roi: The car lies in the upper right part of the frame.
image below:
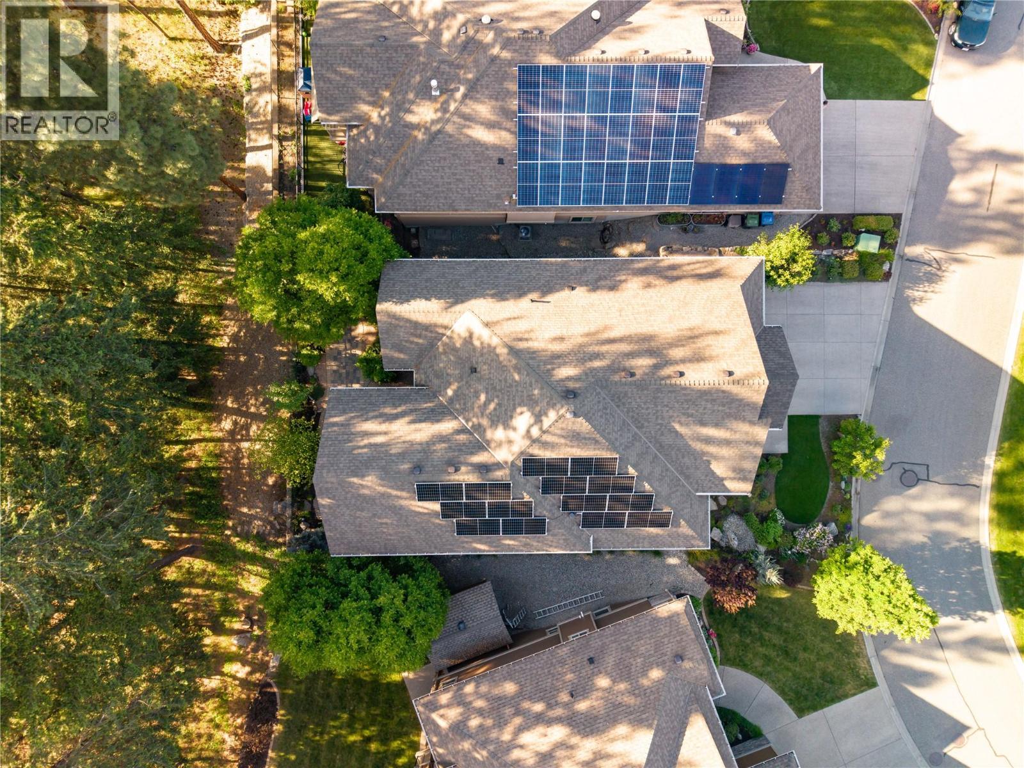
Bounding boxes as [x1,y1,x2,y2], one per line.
[952,0,1011,48]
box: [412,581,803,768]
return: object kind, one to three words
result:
house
